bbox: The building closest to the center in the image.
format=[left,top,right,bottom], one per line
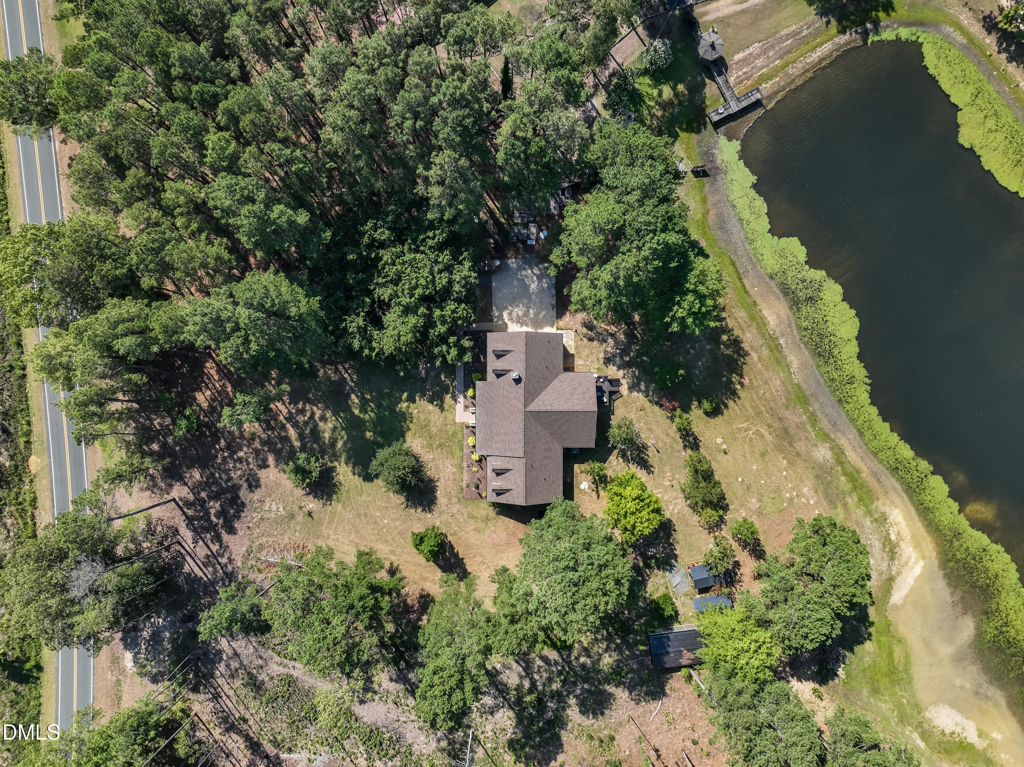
[470,331,598,505]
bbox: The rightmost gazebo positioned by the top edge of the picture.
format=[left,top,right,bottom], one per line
[693,32,725,68]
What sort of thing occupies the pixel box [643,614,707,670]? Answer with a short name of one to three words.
barn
